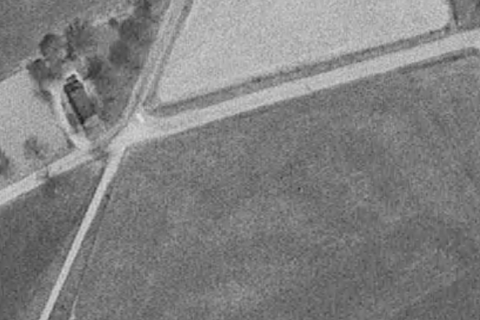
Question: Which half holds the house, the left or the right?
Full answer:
The house sits on the left side.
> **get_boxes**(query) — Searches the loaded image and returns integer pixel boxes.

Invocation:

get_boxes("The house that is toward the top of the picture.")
[67,75,97,119]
